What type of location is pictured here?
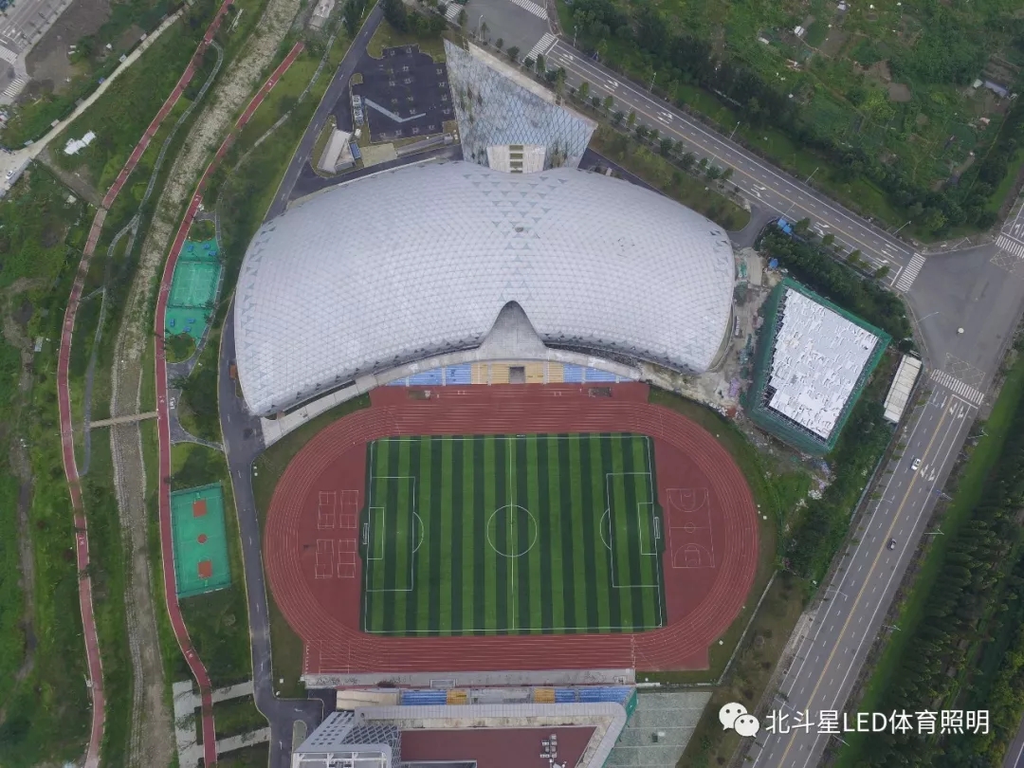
sports ground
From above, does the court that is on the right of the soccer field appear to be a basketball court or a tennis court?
basketball court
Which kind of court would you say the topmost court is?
tennis court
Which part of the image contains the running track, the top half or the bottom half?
bottom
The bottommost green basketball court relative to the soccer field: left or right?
to its left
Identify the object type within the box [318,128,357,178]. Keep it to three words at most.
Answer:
building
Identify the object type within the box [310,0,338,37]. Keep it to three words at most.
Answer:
building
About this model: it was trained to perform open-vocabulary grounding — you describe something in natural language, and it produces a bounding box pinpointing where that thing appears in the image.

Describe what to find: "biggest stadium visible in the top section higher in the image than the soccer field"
[234,159,737,417]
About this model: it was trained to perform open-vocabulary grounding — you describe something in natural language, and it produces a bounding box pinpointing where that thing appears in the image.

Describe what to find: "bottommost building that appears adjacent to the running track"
[743,277,891,454]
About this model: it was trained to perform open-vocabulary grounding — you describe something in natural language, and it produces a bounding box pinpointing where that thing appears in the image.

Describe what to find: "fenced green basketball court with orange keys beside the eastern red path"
[172,482,230,598]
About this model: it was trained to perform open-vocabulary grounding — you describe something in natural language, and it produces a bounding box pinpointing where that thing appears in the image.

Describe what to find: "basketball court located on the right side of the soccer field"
[667,487,715,569]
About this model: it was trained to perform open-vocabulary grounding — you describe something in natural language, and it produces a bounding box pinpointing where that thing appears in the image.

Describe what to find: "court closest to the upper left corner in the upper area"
[166,237,223,343]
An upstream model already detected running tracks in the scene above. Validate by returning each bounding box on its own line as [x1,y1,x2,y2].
[264,383,759,674]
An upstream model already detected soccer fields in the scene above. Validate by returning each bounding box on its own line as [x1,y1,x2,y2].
[356,433,668,637]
